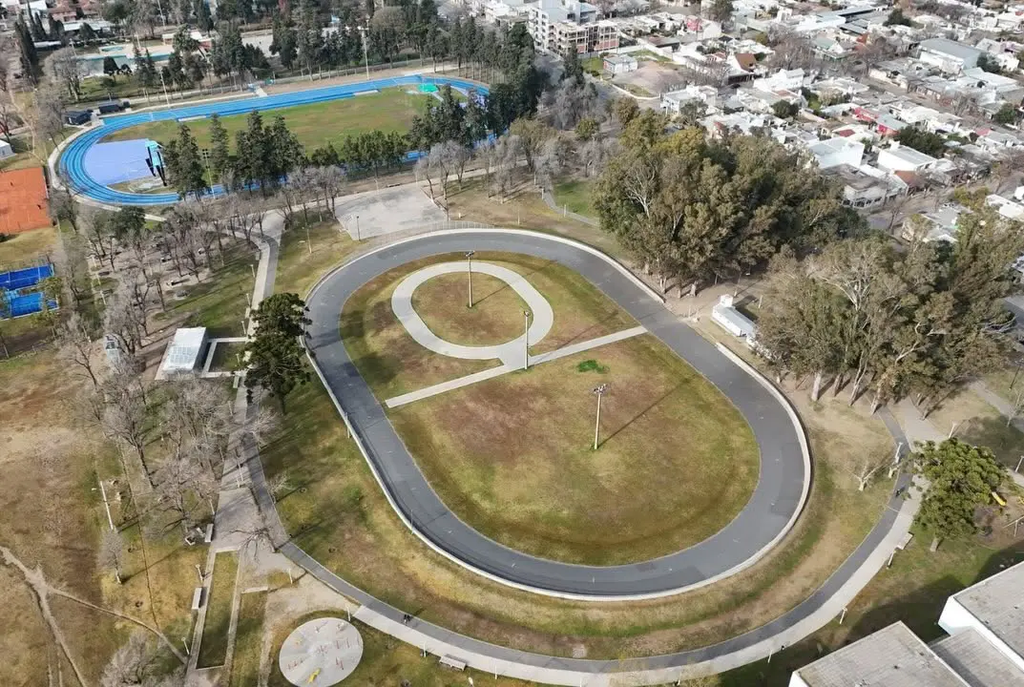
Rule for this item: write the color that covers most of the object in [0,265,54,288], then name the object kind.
blue sports court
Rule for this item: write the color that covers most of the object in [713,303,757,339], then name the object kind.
white trailer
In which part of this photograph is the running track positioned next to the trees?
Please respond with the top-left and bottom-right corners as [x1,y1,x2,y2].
[55,76,519,204]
